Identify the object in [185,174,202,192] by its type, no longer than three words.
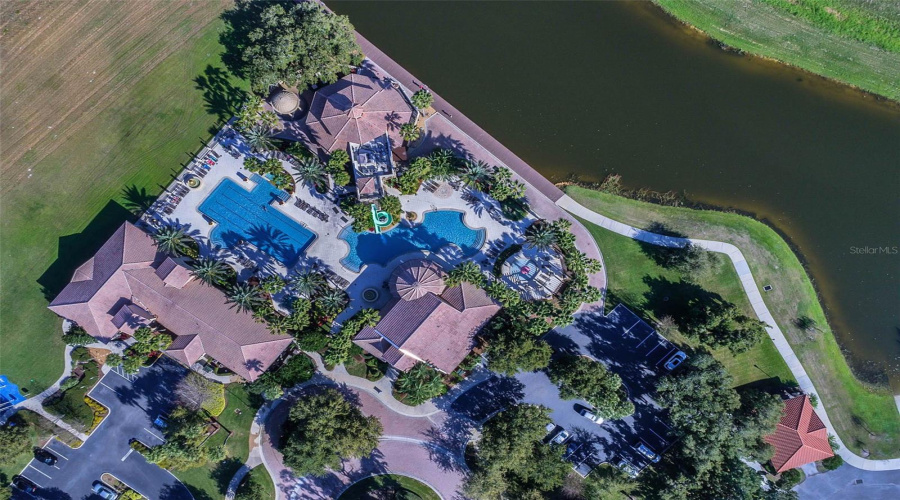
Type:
fountain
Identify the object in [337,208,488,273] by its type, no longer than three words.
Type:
swimming pool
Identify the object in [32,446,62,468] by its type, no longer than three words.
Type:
car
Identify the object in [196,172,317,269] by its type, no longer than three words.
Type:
swimming pool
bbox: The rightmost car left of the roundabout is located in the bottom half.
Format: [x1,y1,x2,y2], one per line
[147,409,173,432]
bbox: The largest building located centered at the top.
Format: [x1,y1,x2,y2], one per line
[305,73,412,160]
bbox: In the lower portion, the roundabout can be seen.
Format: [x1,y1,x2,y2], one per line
[261,382,468,500]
